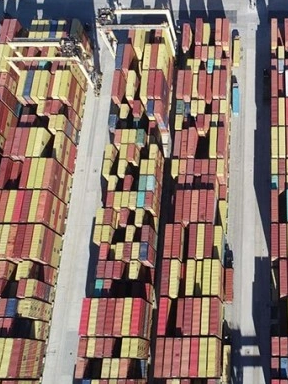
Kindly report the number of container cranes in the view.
two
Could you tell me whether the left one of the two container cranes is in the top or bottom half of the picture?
top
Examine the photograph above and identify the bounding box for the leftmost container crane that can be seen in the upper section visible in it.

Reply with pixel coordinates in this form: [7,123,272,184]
[2,31,100,96]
